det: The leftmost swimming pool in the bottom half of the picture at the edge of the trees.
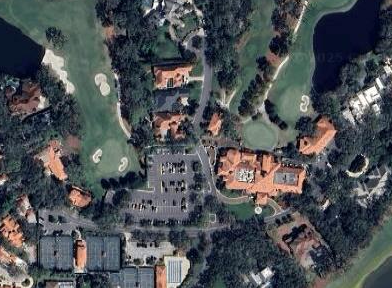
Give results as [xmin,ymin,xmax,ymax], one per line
[166,256,190,288]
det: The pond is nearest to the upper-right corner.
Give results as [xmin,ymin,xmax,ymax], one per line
[312,0,387,97]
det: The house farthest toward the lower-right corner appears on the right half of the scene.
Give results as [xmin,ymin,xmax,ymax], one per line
[310,243,333,267]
